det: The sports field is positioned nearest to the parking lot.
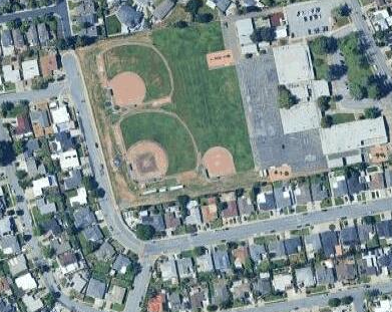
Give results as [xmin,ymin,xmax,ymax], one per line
[179,28,248,145]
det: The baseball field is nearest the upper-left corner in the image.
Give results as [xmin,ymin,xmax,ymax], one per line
[99,42,174,110]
